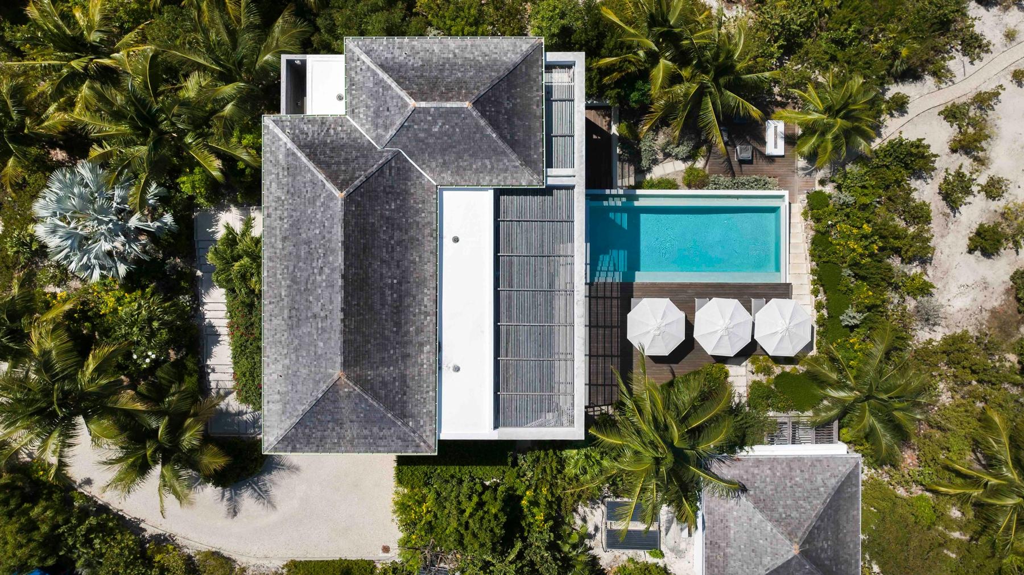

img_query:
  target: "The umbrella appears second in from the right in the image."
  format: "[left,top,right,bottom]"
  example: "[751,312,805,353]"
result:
[693,298,753,357]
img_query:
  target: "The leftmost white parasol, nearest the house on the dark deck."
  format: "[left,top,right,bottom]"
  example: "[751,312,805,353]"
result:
[627,298,685,356]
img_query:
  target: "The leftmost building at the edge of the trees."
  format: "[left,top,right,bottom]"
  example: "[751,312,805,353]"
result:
[261,35,589,456]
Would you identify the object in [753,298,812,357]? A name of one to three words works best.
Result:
umbrella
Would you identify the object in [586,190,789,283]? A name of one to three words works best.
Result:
swimming pool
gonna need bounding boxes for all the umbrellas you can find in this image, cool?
[753,298,812,357]
[627,298,685,356]
[693,298,753,357]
